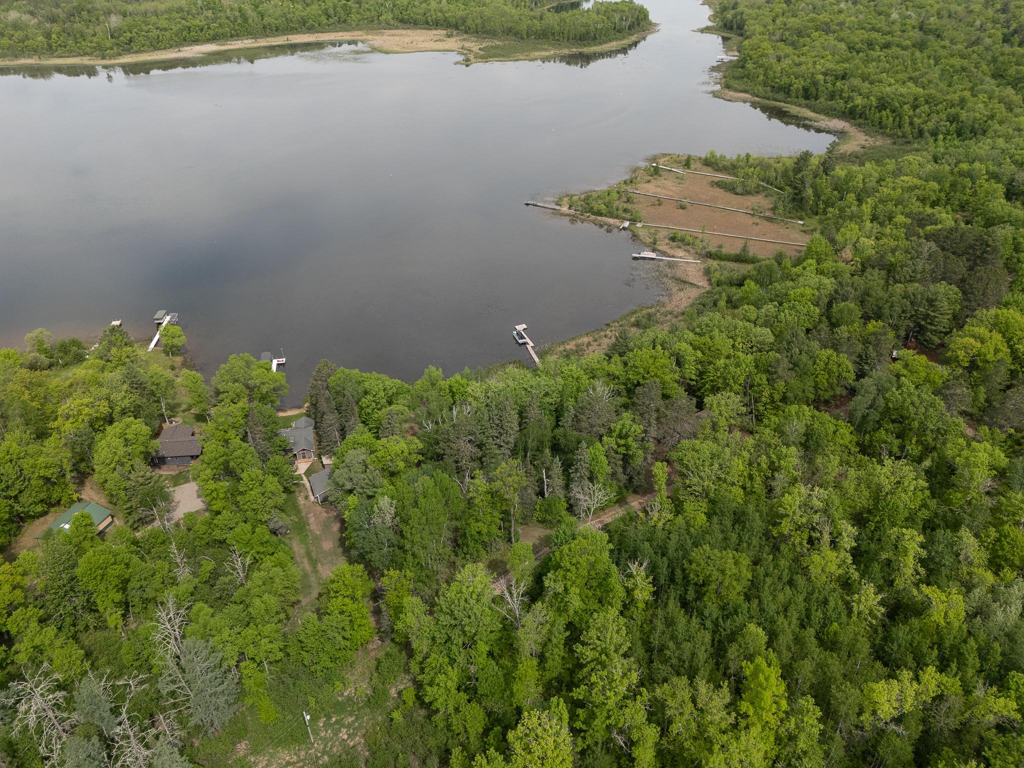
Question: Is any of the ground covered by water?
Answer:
Yes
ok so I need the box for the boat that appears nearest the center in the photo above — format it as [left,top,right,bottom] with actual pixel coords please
[512,331,527,344]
